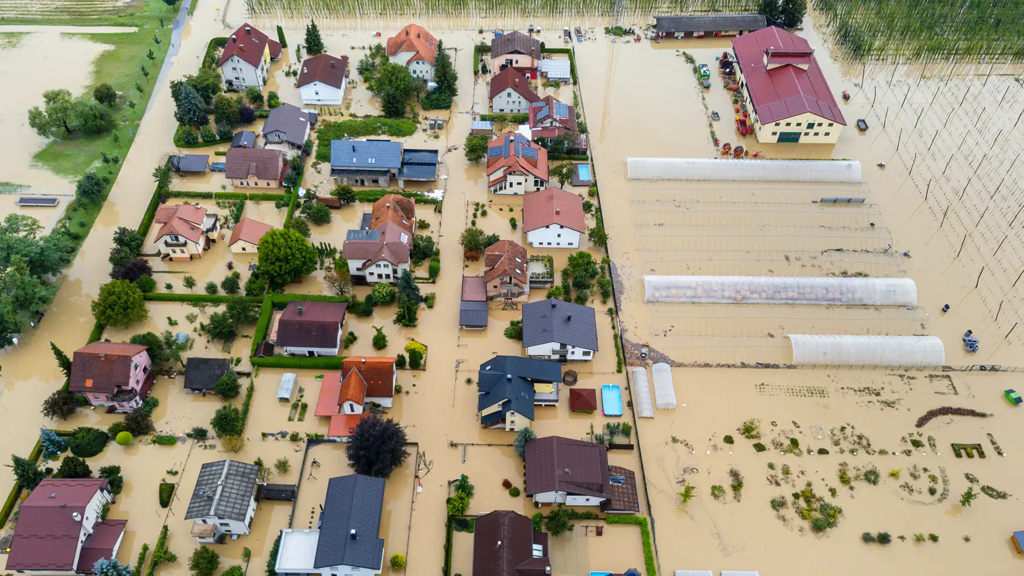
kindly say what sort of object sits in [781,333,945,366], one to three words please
greenhouse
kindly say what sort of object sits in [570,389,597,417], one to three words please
gazebo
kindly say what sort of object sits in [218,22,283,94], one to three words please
house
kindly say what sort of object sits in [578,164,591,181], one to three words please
swimming pool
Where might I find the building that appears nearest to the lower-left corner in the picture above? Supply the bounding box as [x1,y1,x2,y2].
[5,479,130,576]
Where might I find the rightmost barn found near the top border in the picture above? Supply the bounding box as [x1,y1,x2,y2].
[733,26,847,144]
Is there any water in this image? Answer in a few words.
Yes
